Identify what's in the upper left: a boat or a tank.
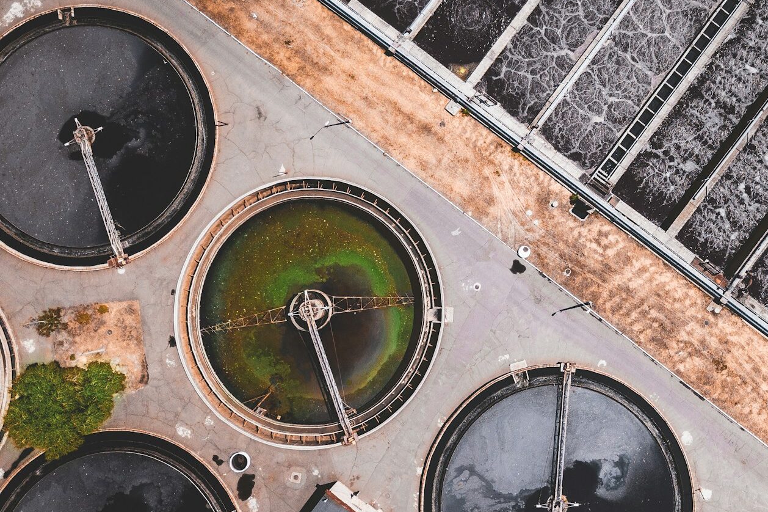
tank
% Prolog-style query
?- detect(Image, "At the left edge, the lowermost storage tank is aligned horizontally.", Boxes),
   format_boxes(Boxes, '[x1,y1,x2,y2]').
[0,427,242,512]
